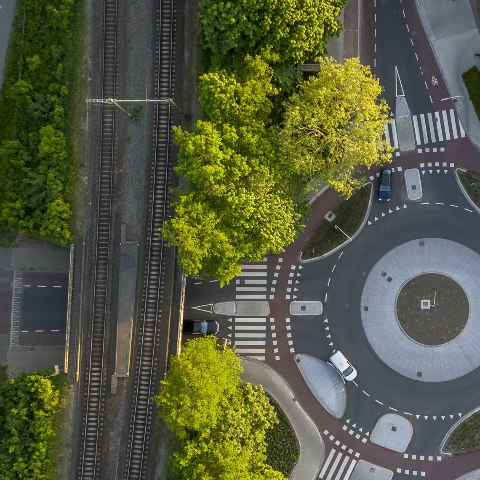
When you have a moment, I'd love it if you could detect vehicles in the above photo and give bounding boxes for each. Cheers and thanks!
[328,349,357,382]
[376,167,393,201]
[184,320,218,336]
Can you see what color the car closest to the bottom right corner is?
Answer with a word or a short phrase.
white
